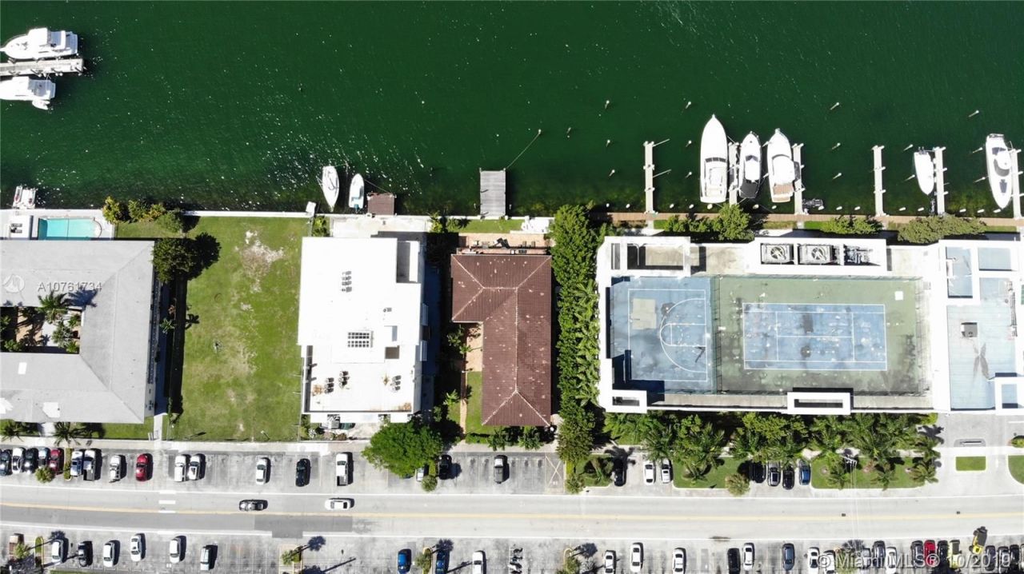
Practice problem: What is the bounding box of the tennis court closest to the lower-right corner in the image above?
[718,277,926,393]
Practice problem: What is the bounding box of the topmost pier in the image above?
[0,52,85,79]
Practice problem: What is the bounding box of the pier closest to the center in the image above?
[478,166,509,218]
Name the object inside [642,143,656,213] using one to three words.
pier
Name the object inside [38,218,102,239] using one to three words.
swimming pool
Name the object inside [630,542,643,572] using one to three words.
vehicle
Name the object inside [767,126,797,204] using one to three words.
boat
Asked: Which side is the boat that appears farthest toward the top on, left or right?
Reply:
left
